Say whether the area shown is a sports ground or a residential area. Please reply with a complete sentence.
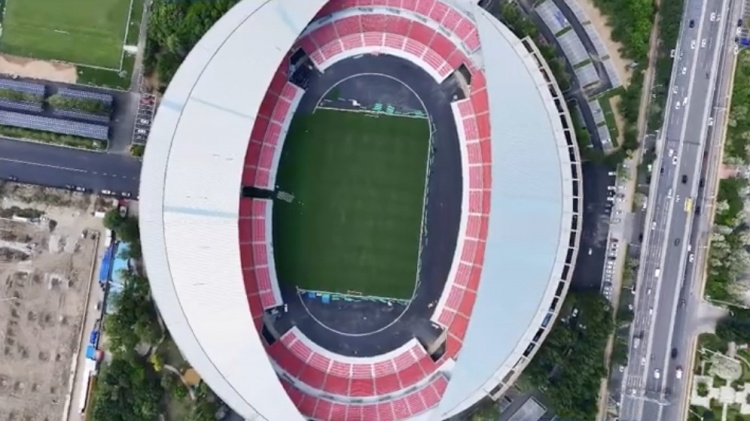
This image shows a sports ground.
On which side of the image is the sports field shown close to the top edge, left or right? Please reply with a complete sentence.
It is on the left.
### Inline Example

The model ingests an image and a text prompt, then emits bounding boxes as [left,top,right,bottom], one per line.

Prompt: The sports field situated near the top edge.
[0,0,131,71]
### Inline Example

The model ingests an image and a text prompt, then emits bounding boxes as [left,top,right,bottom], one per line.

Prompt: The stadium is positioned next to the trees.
[141,0,584,421]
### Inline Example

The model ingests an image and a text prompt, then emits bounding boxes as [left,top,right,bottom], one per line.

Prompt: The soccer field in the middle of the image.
[275,108,431,302]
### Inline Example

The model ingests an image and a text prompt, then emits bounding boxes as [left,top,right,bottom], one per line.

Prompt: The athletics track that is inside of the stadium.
[268,52,461,355]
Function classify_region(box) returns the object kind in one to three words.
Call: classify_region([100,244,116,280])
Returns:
shed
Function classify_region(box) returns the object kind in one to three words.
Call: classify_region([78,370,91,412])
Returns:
shed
